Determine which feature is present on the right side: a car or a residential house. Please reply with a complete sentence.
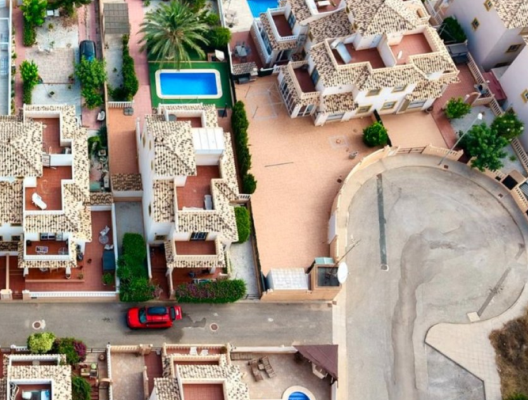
Visible on the right side is a residential house.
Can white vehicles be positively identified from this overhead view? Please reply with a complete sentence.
No, no white vehicle is visible in the view.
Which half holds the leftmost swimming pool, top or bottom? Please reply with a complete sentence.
The top half of the photo is where the leftmost swimming pool is.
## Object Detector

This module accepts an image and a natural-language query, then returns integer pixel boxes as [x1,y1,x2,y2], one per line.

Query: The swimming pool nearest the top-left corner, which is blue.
[157,68,223,100]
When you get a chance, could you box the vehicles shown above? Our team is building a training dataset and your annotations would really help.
[77,40,98,63]
[123,304,189,335]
